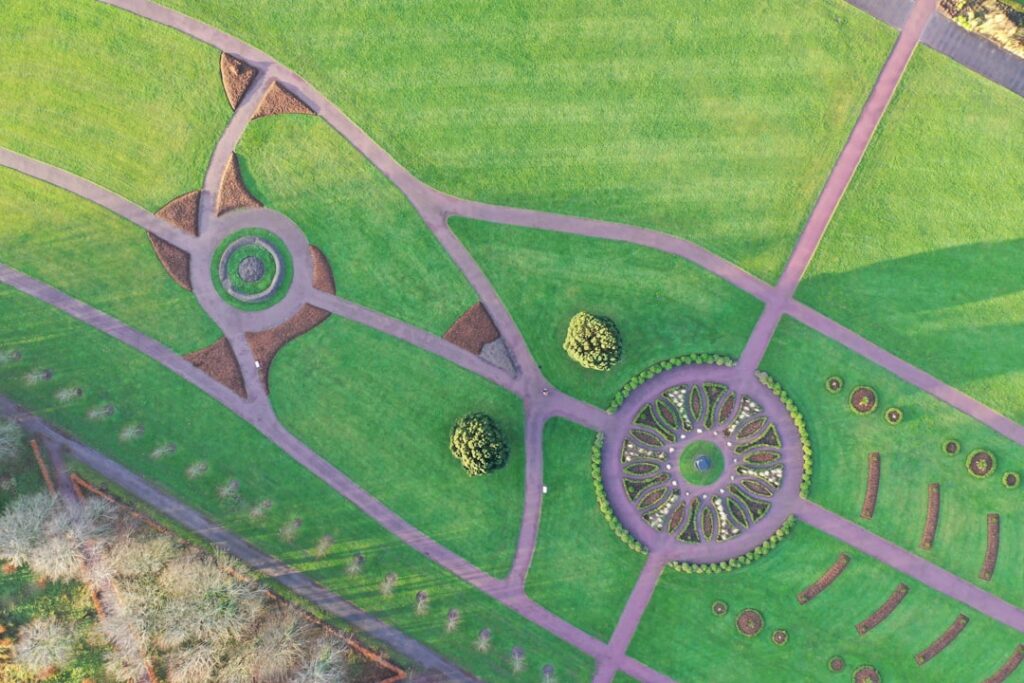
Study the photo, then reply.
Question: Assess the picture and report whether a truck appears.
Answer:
No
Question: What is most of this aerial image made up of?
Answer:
grass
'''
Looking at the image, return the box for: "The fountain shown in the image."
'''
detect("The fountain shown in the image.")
[694,455,711,472]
